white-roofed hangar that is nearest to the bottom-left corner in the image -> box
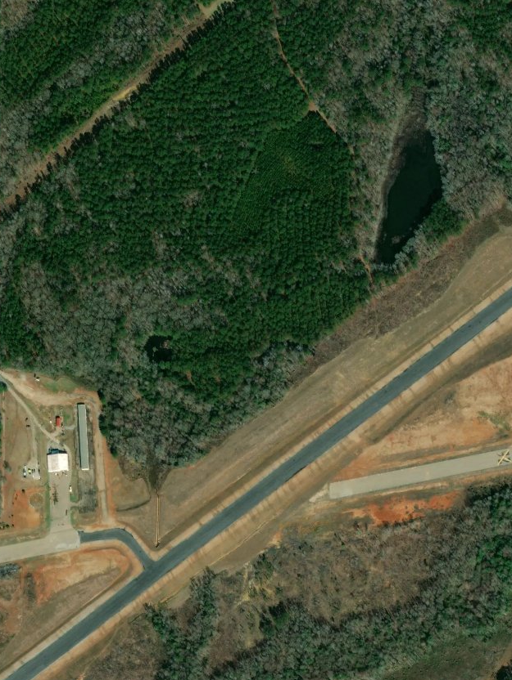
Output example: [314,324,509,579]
[47,452,70,473]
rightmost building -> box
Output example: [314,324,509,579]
[78,404,90,470]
